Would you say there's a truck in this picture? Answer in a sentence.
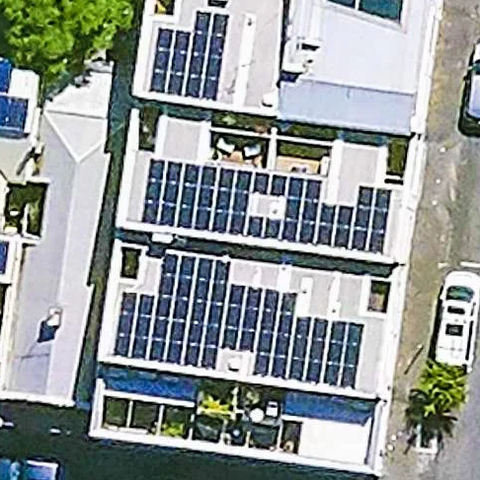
No, no truck can be seen from above.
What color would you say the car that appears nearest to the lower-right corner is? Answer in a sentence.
From above, the car that appears nearest to the lower-right corner appears white.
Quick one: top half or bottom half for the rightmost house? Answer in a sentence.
Seen from above, the rightmost house lies in the top half of the view.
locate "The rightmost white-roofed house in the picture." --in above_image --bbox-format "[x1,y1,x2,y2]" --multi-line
[272,0,441,137]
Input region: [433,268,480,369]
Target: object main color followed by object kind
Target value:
white car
